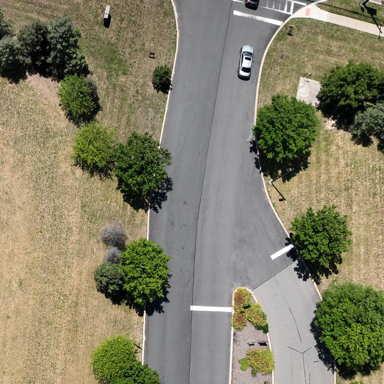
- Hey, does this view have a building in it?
No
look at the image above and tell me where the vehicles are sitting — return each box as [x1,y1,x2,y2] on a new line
[244,0,259,12]
[237,45,256,81]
